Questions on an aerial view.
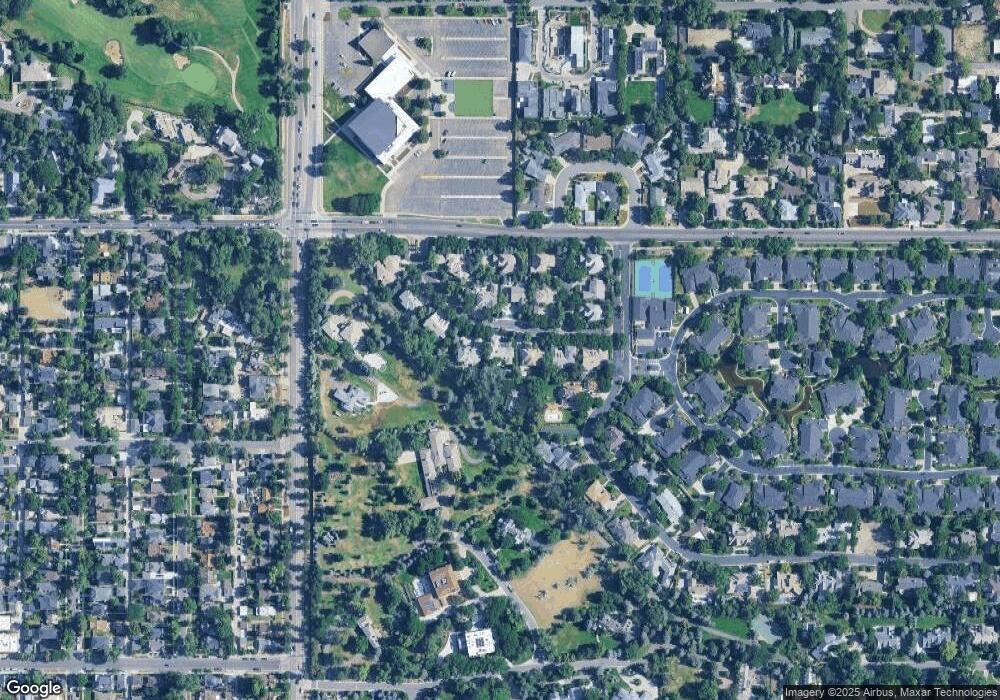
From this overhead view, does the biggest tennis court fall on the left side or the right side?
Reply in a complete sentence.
You can find the biggest tennis court on the right side of the picture.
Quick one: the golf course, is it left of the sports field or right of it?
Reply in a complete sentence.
Looking at the photo, the golf course lies to the left of the sports field.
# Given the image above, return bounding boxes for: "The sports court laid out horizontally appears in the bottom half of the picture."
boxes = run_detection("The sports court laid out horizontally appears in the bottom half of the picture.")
[540,424,579,436]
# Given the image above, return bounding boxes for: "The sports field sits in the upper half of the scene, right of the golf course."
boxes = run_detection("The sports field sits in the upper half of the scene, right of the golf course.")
[454,80,493,117]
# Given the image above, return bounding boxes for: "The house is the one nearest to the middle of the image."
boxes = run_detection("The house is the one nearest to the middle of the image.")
[491,335,514,363]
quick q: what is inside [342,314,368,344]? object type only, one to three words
house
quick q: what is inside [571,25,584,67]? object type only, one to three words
building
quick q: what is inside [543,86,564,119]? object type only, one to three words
house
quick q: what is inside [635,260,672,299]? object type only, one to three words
tennis court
